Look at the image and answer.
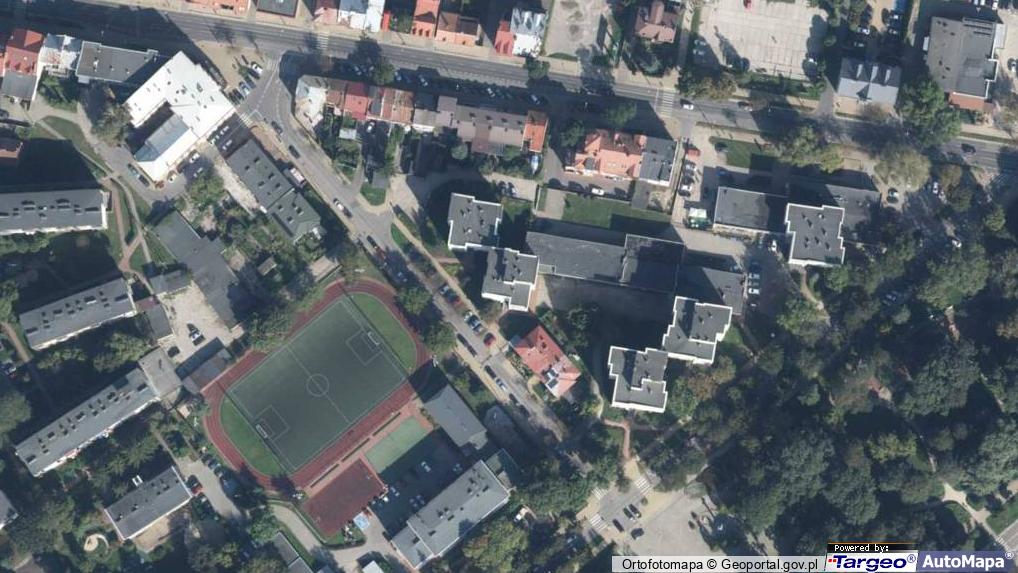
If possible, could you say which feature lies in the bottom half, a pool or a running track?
running track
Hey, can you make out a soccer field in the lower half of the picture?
Yes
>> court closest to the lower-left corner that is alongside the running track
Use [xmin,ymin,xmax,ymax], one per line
[304,460,387,537]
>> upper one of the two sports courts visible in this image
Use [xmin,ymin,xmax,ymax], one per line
[366,416,428,474]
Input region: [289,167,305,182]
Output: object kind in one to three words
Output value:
vehicle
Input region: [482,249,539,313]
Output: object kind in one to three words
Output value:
building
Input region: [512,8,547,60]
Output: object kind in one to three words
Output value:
house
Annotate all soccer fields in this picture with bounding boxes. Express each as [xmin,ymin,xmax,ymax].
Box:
[225,297,409,474]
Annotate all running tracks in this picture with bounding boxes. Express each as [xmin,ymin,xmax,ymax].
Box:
[202,277,434,492]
